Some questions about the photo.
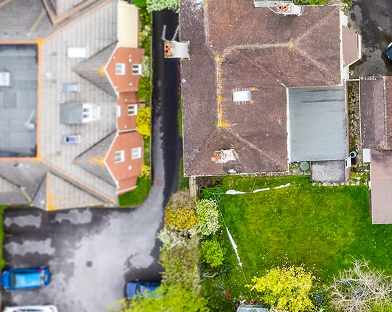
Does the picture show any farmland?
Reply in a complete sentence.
No, farmland can't be seen anywhere here.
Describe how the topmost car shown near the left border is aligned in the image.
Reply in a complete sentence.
From this overhead view, the topmost car shown near the left border appears to run from left to right.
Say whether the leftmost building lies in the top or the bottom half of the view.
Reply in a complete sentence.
It is in the top half that the leftmost building appears.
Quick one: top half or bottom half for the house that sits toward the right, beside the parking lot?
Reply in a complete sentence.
The top half of the photo is where the house that sits toward the right, beside the parking lot is.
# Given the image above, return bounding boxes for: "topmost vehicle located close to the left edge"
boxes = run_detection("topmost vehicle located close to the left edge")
[2,267,52,291]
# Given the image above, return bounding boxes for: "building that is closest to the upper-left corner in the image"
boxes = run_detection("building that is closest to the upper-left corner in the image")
[0,0,143,210]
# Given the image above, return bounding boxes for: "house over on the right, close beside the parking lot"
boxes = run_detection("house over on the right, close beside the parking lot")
[166,0,364,182]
